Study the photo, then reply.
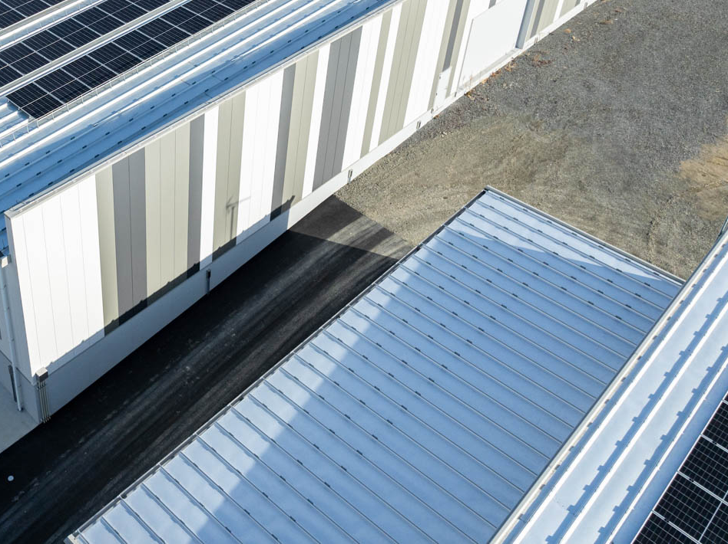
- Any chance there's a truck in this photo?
No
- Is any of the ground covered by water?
No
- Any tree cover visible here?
No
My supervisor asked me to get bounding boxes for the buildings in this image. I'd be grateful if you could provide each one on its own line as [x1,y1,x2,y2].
[71,181,687,544]
[0,0,595,424]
